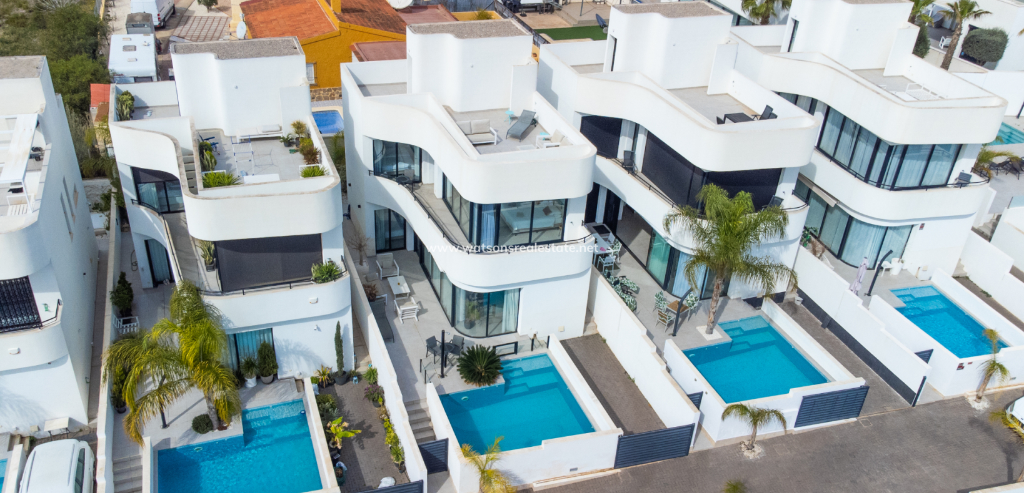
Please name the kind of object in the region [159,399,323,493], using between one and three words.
swimming pool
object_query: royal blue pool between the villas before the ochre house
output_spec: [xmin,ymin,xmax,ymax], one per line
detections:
[313,107,345,142]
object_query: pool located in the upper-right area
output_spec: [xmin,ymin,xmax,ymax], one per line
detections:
[995,121,1024,148]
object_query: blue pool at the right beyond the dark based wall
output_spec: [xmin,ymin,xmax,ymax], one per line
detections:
[891,285,1007,356]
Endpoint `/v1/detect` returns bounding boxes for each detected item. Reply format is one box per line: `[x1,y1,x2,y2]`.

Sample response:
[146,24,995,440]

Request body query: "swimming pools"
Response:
[691,314,826,400]
[891,285,1007,356]
[443,353,594,456]
[159,399,323,493]
[995,121,1024,148]
[313,107,345,142]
